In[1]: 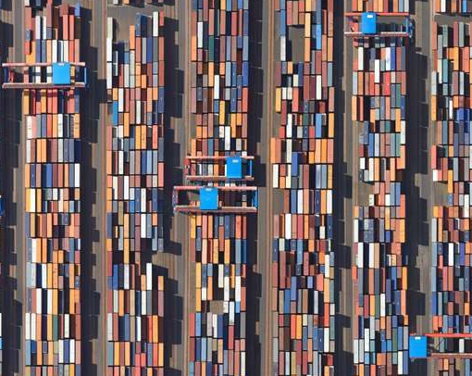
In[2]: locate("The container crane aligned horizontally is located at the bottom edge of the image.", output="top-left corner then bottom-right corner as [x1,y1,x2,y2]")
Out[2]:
[407,328,472,361]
